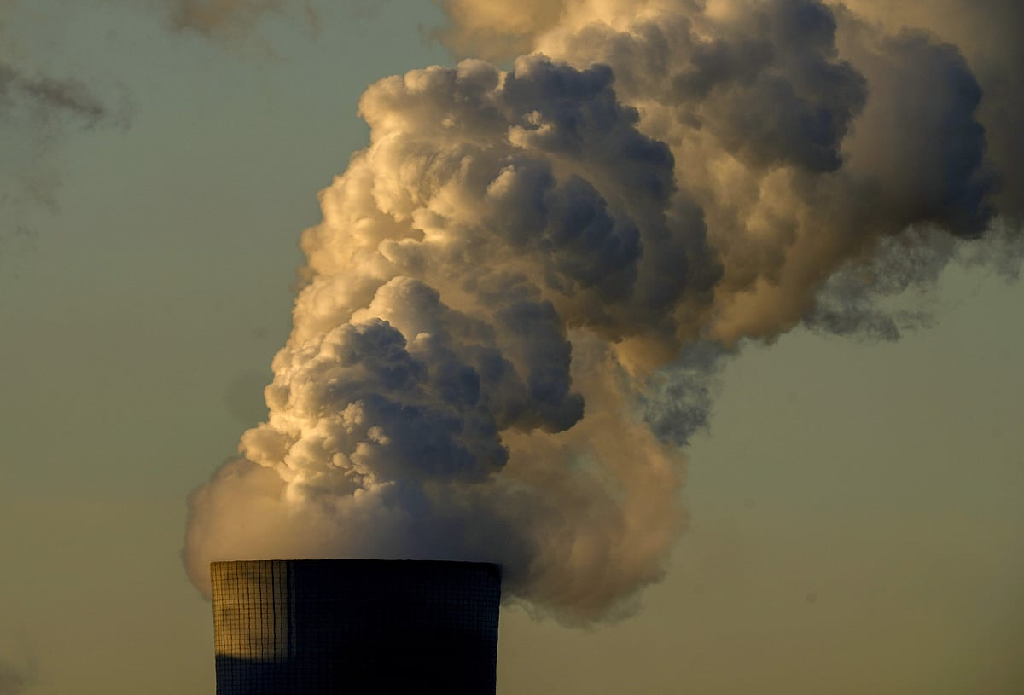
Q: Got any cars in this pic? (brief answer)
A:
No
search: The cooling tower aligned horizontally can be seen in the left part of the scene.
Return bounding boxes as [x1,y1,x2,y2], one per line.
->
[210,555,500,695]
